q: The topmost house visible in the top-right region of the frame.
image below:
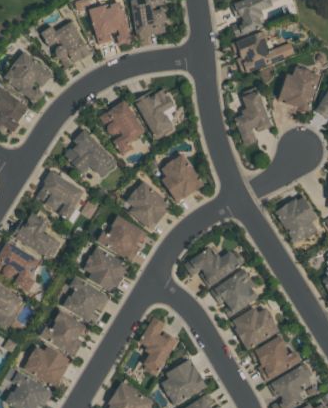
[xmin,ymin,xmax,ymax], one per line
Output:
[234,0,280,36]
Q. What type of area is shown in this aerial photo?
residential area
